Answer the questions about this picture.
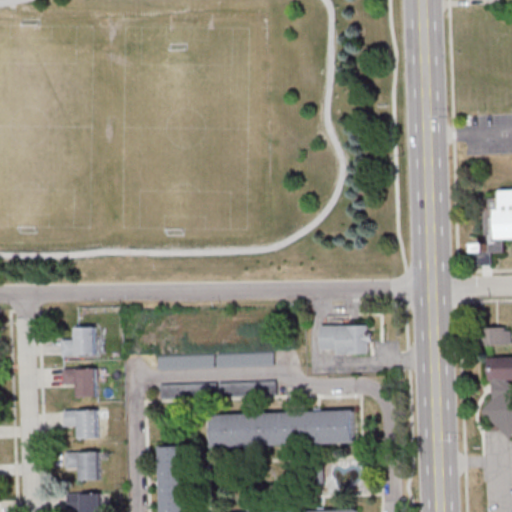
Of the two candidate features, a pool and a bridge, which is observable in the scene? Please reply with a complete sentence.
I can see a pool in this picture.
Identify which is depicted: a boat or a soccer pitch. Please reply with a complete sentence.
The image shows a soccer pitch.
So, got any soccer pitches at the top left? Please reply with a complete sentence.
Yes, a soccer pitch is visible at the top left.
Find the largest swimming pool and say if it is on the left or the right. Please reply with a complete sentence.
It is on the right.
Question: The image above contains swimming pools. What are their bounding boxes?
[103,388,114,398]
[333,466,362,492]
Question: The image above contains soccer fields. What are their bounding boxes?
[0,24,94,230]
[123,26,250,230]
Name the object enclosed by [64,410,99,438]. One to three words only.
house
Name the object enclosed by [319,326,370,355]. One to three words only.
building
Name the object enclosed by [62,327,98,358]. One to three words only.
house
